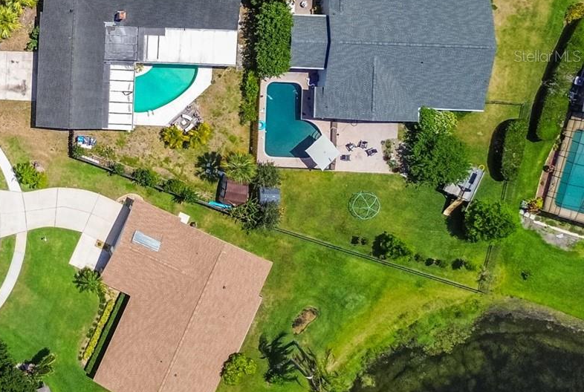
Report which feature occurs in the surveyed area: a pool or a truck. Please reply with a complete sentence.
There is a pool in the scene.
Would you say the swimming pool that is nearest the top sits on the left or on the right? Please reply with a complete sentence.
The swimming pool that is nearest the top is on the left side of the image.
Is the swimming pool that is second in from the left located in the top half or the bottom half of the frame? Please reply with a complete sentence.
Seen from above, the swimming pool that is second in from the left lies in the top half of the view.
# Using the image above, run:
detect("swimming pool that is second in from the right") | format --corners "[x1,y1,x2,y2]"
[264,78,326,160]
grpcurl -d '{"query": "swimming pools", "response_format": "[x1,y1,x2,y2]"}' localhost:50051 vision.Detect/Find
[132,64,202,117]
[551,118,584,217]
[264,78,326,160]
